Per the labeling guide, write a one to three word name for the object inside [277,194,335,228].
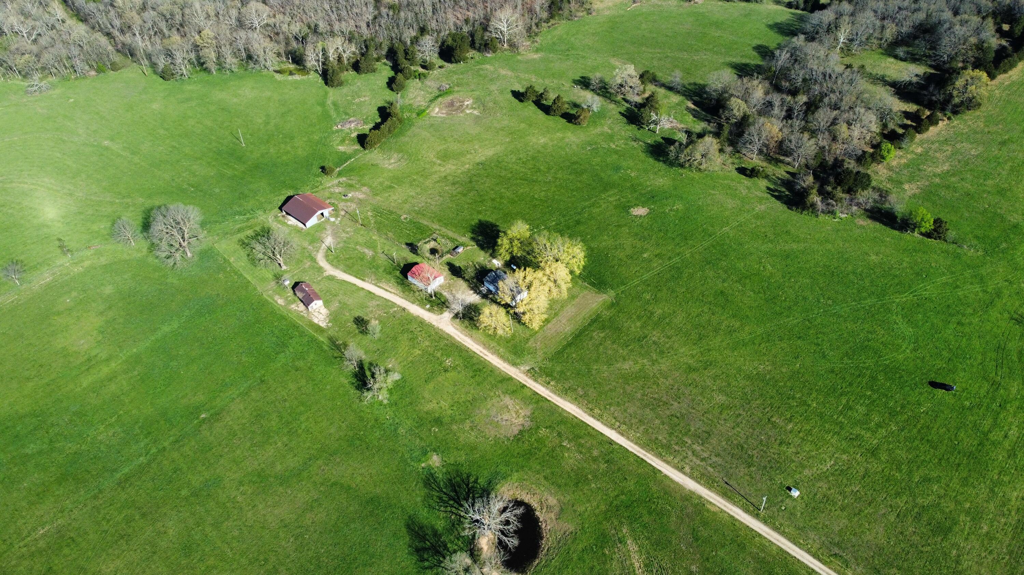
barn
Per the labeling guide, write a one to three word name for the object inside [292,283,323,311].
shed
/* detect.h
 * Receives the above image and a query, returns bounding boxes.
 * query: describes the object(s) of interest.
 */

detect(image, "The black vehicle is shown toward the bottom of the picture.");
[934,381,955,393]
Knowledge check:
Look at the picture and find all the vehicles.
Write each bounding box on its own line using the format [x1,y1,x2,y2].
[934,381,955,393]
[489,259,502,267]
